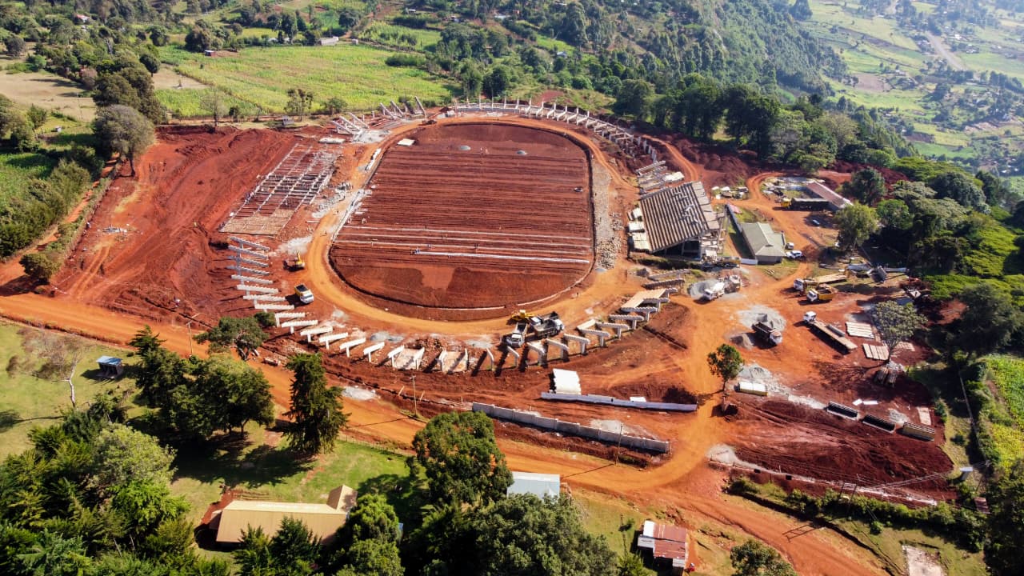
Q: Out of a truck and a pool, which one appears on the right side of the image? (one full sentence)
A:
Visible on the right side of the image is a truck.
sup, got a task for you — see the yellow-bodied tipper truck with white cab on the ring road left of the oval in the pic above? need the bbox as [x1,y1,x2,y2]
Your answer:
[290,279,313,301]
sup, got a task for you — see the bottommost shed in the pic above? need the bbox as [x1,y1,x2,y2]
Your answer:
[637,521,688,574]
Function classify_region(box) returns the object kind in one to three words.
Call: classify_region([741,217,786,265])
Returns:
house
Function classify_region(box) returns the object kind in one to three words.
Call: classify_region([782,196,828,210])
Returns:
vehicle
